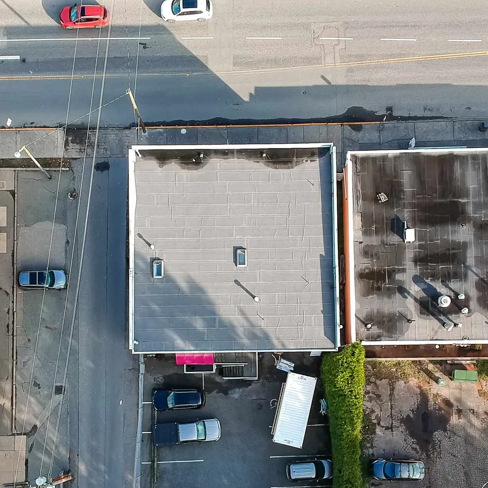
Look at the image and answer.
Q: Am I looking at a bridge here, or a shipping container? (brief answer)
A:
shipping container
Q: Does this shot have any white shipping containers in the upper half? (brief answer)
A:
No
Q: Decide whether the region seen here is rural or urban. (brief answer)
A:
urban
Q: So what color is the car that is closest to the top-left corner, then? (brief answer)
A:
red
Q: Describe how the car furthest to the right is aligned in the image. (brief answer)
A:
horizontally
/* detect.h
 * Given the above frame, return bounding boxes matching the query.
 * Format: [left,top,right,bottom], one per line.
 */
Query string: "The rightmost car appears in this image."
[371,456,425,483]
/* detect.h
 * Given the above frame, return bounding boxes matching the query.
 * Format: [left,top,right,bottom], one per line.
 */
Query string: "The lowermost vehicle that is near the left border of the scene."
[17,266,68,292]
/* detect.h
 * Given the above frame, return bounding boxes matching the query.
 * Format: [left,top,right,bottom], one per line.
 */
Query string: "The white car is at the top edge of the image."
[161,0,214,23]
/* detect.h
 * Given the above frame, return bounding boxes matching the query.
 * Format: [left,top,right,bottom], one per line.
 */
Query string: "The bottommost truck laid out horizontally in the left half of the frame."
[154,418,222,446]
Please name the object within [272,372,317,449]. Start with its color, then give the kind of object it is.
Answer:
white shipping container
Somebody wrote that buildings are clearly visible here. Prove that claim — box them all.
[343,147,488,349]
[129,143,343,365]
